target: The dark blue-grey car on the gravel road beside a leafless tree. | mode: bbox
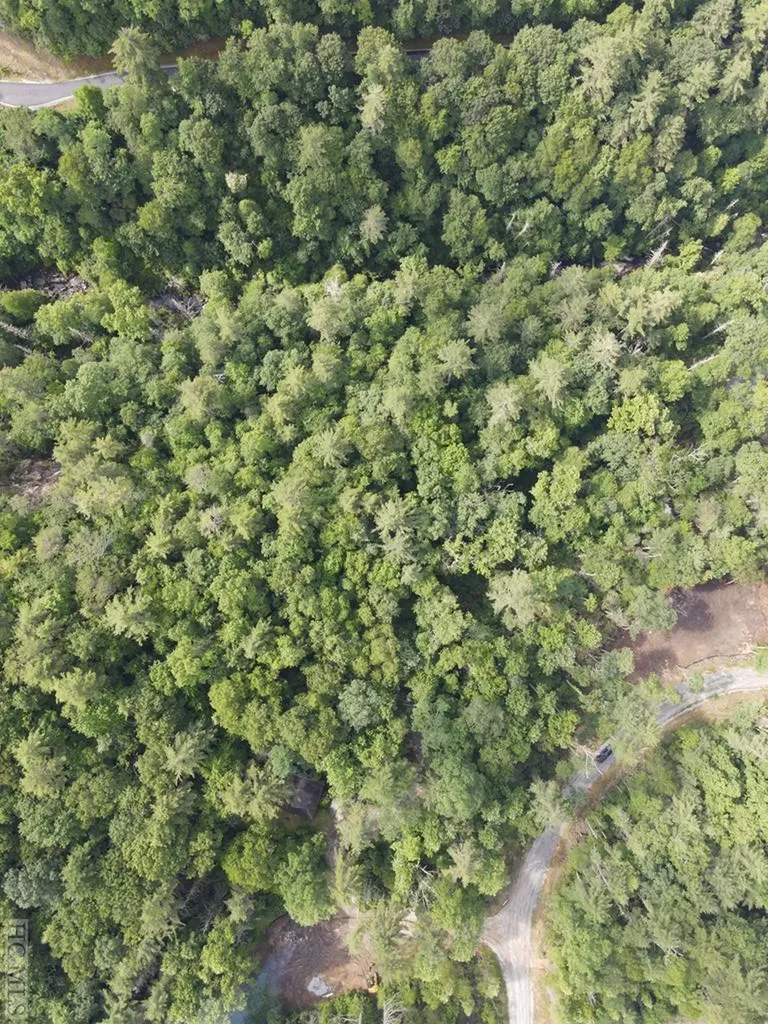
[595,743,613,763]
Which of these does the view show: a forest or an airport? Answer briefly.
forest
